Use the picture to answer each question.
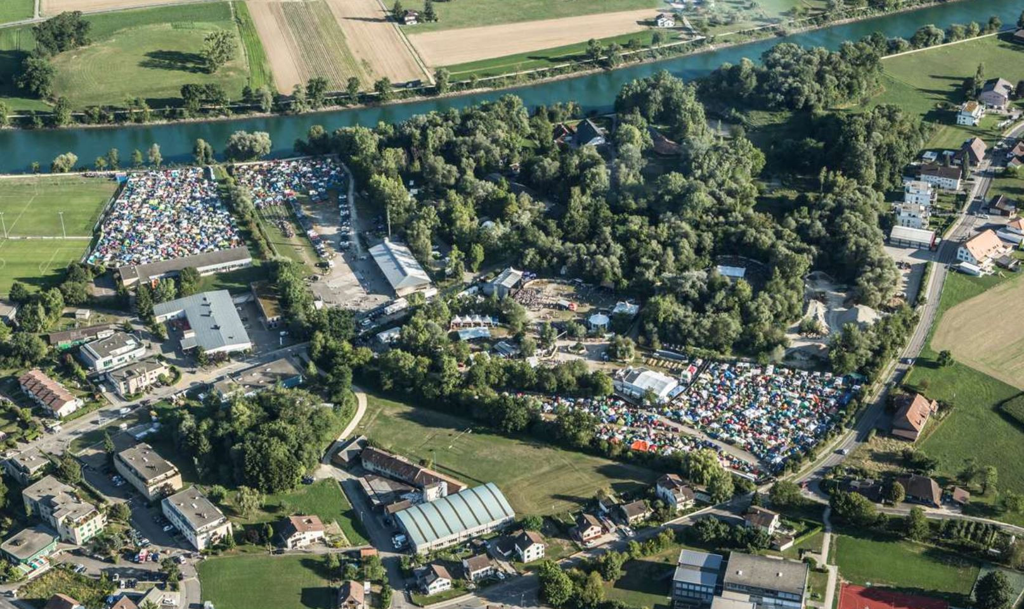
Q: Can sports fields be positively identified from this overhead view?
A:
Yes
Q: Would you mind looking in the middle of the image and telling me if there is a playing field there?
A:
No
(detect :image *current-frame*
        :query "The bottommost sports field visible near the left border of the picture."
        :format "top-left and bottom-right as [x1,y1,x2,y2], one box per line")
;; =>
[0,238,92,299]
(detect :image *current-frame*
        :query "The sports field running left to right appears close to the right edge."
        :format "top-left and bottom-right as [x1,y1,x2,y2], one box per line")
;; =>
[836,533,981,598]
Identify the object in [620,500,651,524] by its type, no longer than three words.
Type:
house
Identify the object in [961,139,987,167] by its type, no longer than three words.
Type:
barn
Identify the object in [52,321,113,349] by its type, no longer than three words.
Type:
shed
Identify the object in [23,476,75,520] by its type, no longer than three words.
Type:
building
